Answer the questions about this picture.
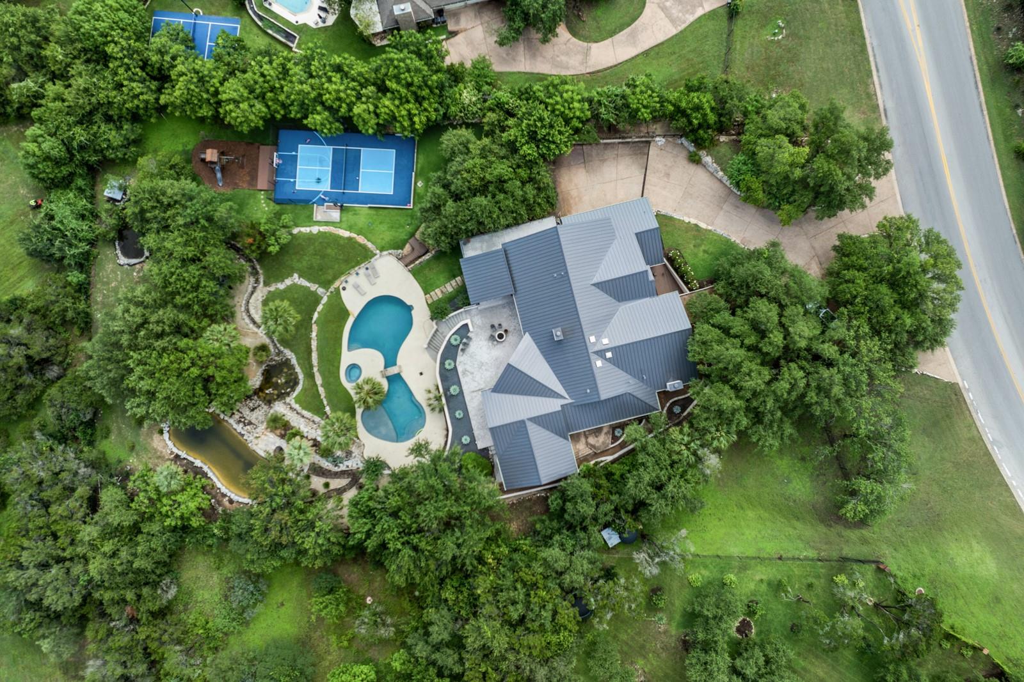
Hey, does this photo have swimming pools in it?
Yes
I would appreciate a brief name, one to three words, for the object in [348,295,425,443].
swimming pool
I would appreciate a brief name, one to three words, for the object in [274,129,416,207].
sports court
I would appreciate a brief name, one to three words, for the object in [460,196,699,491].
house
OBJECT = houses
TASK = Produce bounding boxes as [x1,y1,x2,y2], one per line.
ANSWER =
[460,196,699,491]
[350,0,507,44]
